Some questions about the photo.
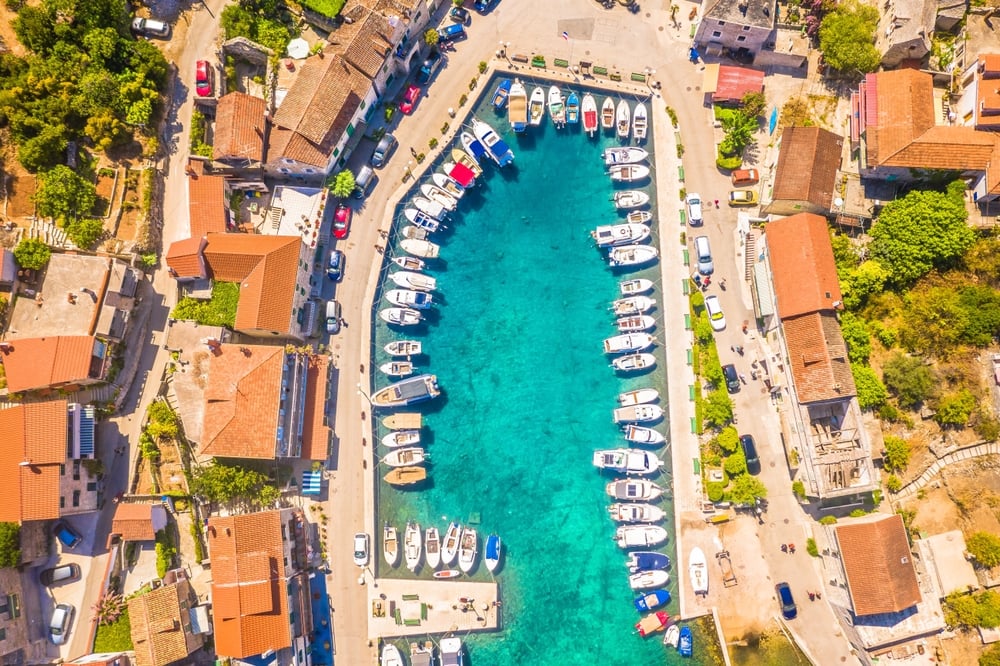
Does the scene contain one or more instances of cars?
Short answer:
Yes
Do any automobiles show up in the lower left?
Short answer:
Yes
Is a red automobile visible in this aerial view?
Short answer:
Yes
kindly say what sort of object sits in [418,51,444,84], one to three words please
car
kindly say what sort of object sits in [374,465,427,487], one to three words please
boat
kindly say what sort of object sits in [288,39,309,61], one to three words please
umbrella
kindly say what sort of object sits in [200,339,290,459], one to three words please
house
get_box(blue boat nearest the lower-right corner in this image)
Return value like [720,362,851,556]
[675,620,692,656]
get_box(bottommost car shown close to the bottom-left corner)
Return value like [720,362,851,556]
[49,601,77,645]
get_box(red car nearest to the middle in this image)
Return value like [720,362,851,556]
[333,204,353,238]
